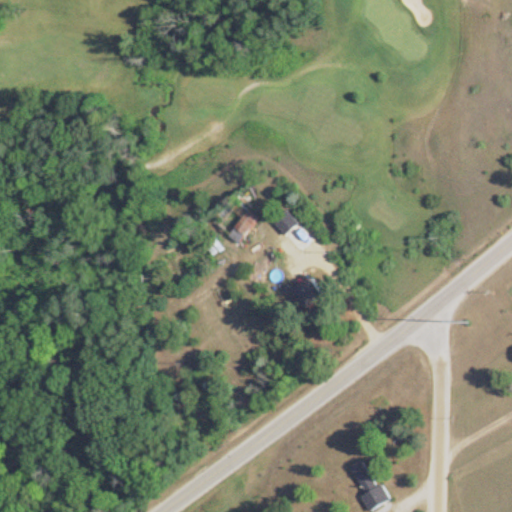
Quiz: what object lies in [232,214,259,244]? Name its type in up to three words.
house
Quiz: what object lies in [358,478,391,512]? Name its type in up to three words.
house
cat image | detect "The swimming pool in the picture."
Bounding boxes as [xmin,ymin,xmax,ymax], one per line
[269,267,285,283]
